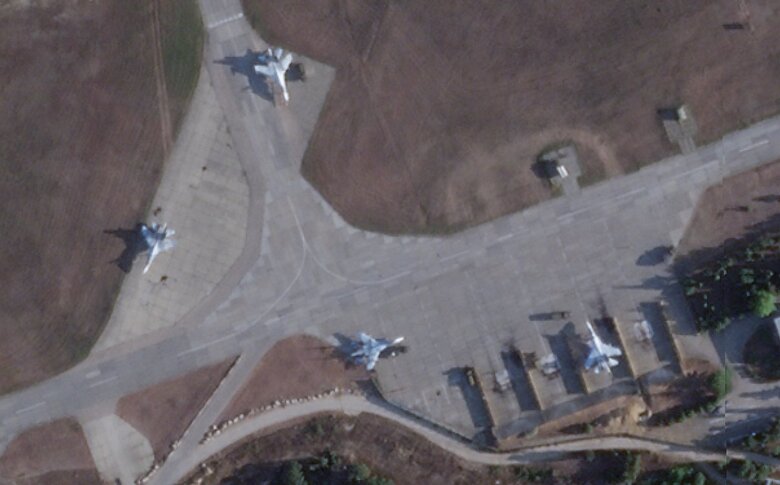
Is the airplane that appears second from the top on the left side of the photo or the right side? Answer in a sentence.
The airplane that appears second from the top sits on the left side.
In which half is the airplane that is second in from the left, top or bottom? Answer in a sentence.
Seen from above, the airplane that is second in from the left lies in the top half of the view.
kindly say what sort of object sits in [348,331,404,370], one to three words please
airplane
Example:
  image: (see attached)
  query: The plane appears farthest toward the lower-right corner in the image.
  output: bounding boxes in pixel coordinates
[583,323,622,378]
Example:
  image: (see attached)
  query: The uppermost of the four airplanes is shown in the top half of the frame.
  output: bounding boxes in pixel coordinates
[255,47,293,102]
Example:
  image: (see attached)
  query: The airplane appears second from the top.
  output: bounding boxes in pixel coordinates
[141,218,179,272]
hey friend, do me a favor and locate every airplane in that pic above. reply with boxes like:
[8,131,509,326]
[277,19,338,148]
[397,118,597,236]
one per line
[348,331,404,370]
[141,218,179,272]
[583,323,622,378]
[255,47,293,102]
